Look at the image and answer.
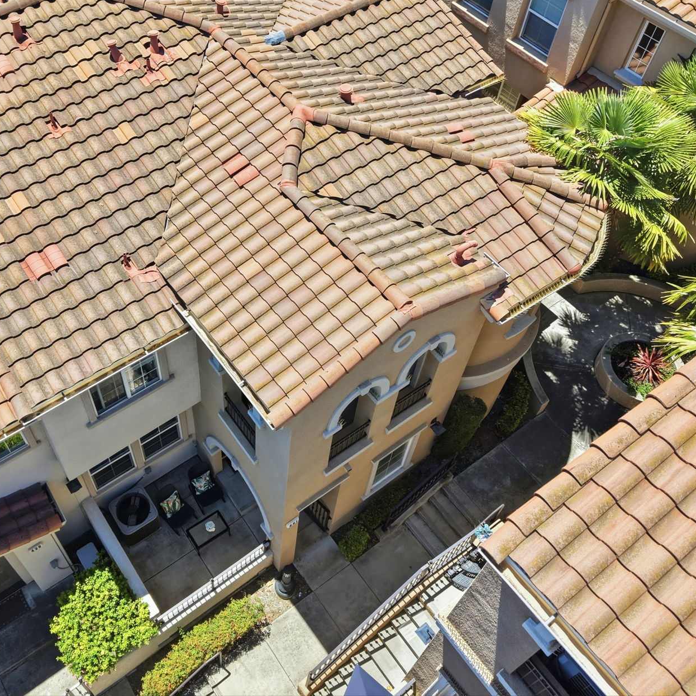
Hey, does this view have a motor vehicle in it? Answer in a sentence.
No, I find no motor vehicle anywhere in the image.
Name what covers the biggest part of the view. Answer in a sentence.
What you mostly see from above here is buildings.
